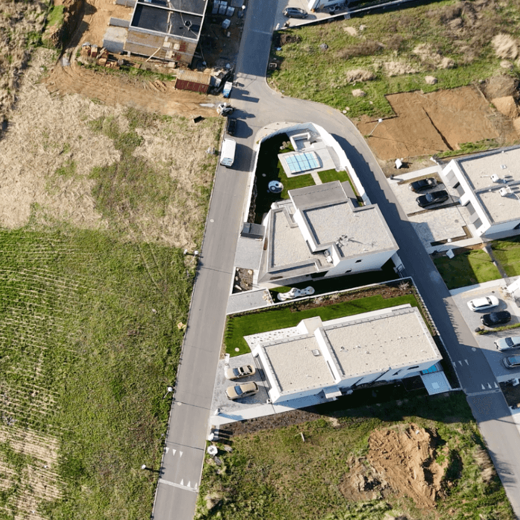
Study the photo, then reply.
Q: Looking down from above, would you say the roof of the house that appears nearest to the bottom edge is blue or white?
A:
white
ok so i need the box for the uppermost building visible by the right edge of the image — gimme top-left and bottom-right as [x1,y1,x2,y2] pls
[446,146,520,238]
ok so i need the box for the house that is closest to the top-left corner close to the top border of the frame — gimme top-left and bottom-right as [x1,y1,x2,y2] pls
[125,0,205,58]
